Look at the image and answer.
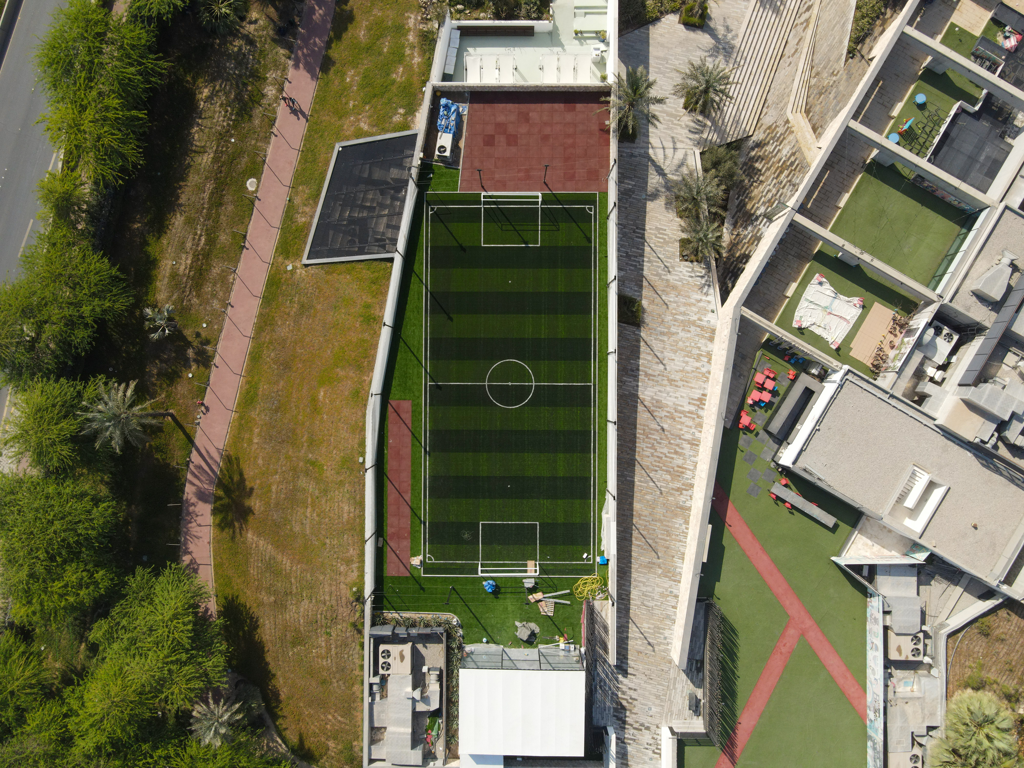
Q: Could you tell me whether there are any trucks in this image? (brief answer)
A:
No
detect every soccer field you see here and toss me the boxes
[422,192,598,577]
